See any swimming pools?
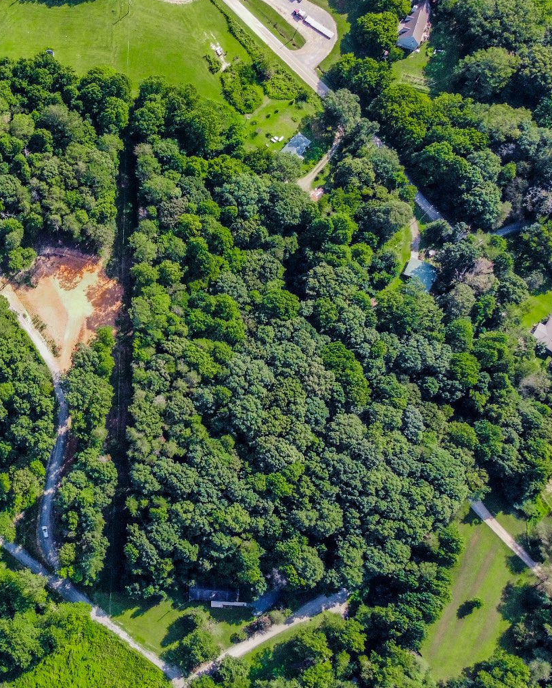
No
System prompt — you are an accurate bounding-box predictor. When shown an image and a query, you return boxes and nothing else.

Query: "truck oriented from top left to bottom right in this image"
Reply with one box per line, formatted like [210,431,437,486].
[292,12,333,40]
